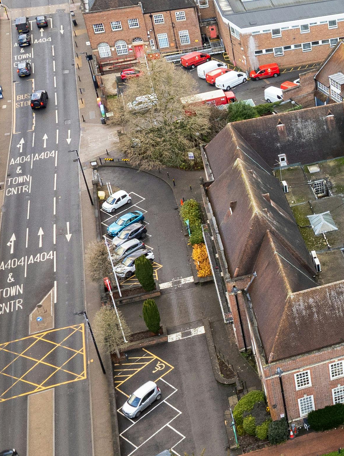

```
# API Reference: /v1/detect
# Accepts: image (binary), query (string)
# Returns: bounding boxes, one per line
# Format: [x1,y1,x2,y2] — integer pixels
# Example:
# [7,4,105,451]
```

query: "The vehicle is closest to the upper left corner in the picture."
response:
[15,16,29,32]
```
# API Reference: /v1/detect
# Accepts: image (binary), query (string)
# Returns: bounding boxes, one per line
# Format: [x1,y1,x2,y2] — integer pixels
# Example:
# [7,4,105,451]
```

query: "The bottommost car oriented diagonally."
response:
[120,382,166,423]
